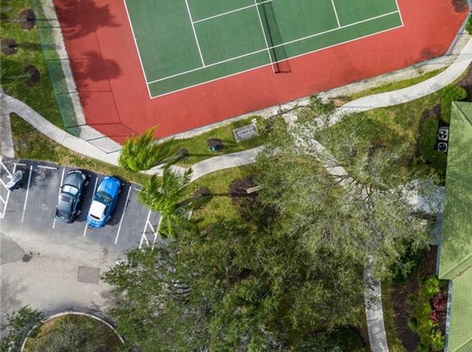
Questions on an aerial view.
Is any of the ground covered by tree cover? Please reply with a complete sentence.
Yes, tree cover shows up in the scene.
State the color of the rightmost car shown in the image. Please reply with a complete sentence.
The color of the rightmost car is blue.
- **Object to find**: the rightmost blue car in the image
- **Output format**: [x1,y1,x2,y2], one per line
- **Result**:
[82,176,119,231]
